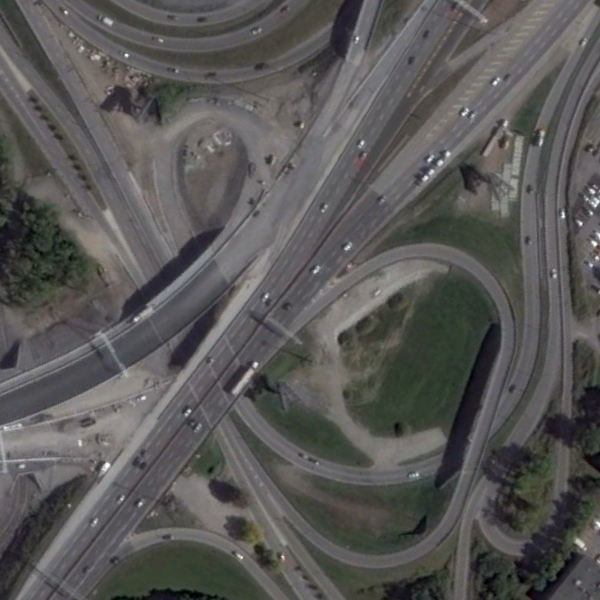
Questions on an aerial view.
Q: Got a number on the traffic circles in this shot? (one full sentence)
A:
There are no traffic circles in this view.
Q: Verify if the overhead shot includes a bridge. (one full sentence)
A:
Yes, you can see a bridge in this photo.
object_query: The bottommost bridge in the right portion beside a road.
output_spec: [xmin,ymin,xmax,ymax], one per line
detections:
[449,319,516,526]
